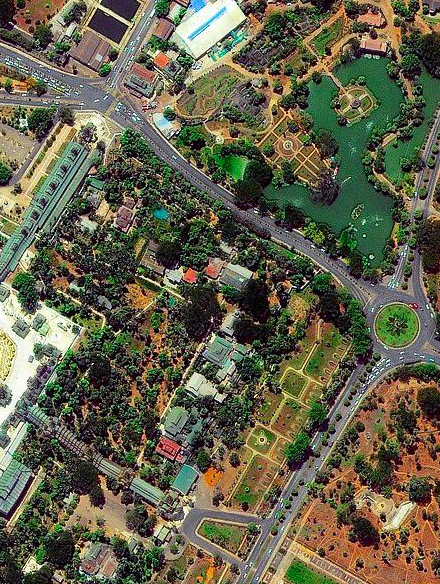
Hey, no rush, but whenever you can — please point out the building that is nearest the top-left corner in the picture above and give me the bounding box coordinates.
[69,31,110,71]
